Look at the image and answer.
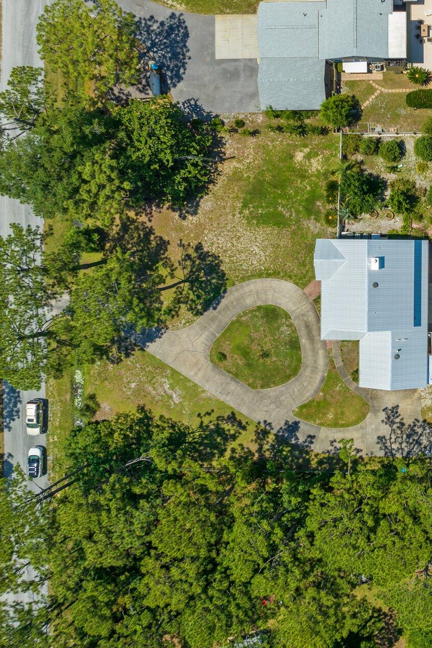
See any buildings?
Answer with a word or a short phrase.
Yes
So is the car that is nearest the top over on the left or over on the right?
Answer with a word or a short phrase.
left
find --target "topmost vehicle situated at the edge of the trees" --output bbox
[25,397,46,433]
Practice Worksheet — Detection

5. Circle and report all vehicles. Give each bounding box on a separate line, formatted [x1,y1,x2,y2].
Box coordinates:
[25,397,46,433]
[27,443,46,477]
